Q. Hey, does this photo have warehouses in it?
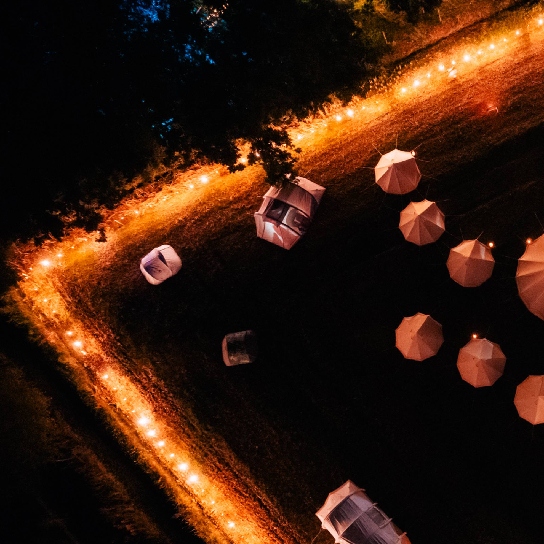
No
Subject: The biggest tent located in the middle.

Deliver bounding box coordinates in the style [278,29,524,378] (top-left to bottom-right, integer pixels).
[253,183,330,250]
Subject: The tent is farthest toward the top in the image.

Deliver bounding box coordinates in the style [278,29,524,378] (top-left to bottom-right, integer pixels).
[365,139,420,202]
